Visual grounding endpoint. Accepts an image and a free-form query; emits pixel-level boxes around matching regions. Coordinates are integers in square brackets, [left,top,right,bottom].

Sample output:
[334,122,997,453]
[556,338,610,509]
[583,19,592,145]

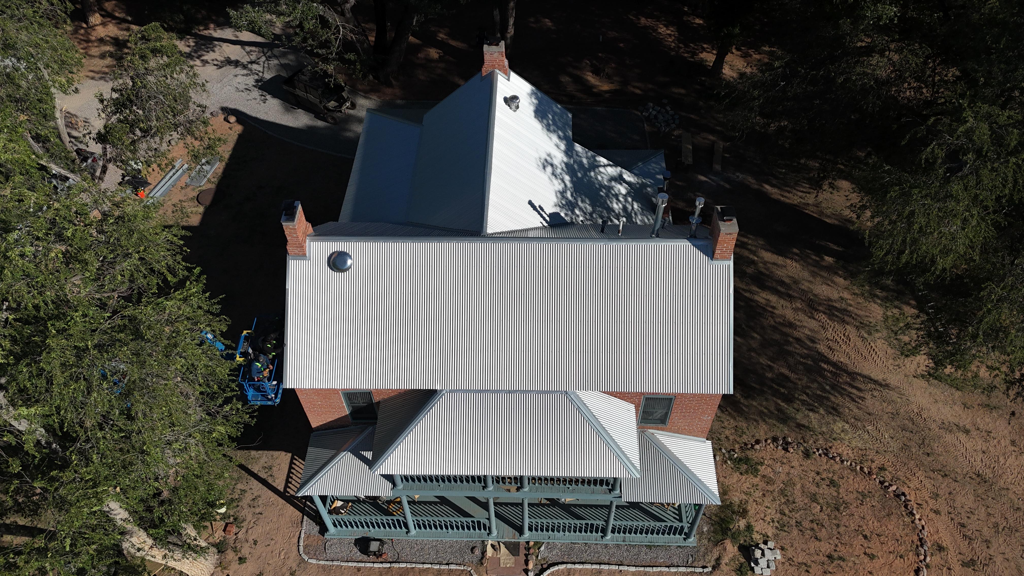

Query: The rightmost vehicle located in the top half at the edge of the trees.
[283,65,353,127]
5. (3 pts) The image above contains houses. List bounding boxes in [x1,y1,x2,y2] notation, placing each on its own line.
[277,39,740,550]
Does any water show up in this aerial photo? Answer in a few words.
No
